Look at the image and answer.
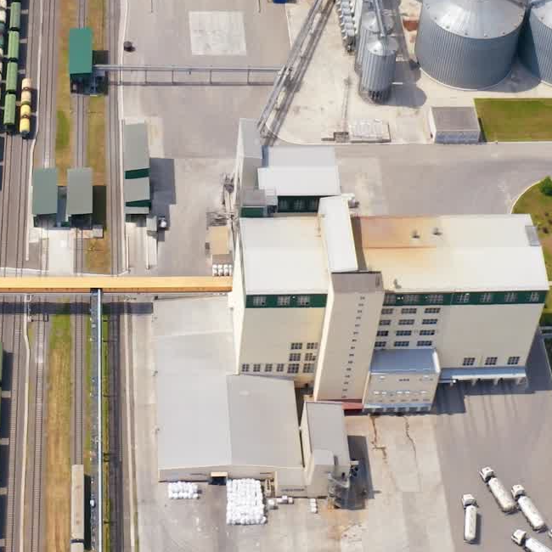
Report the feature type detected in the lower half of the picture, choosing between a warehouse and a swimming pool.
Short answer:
warehouse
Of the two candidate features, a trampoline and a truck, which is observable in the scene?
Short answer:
truck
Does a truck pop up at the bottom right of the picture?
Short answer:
Yes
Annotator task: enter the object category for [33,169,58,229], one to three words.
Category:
shed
